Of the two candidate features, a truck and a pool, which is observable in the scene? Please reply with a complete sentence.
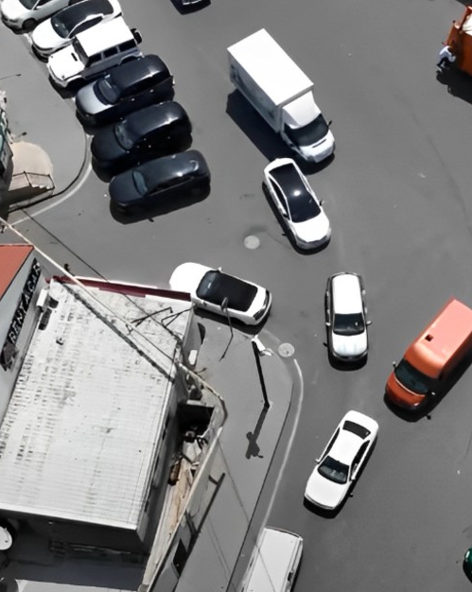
There is a truck in the scene.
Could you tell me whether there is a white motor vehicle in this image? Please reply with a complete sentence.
Yes, you can see a white motor vehicle in this photo.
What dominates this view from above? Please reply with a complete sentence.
For the most part, this view shows paved ground.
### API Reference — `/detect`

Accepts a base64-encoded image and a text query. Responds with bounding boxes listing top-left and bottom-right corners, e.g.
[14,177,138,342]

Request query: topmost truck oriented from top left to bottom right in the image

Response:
[227,28,335,163]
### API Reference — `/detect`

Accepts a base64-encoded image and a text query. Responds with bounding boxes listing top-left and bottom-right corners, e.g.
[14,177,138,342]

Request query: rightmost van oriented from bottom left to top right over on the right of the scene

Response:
[387,303,472,417]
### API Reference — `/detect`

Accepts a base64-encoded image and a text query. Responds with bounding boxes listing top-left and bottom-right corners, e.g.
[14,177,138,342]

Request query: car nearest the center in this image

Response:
[168,263,270,327]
